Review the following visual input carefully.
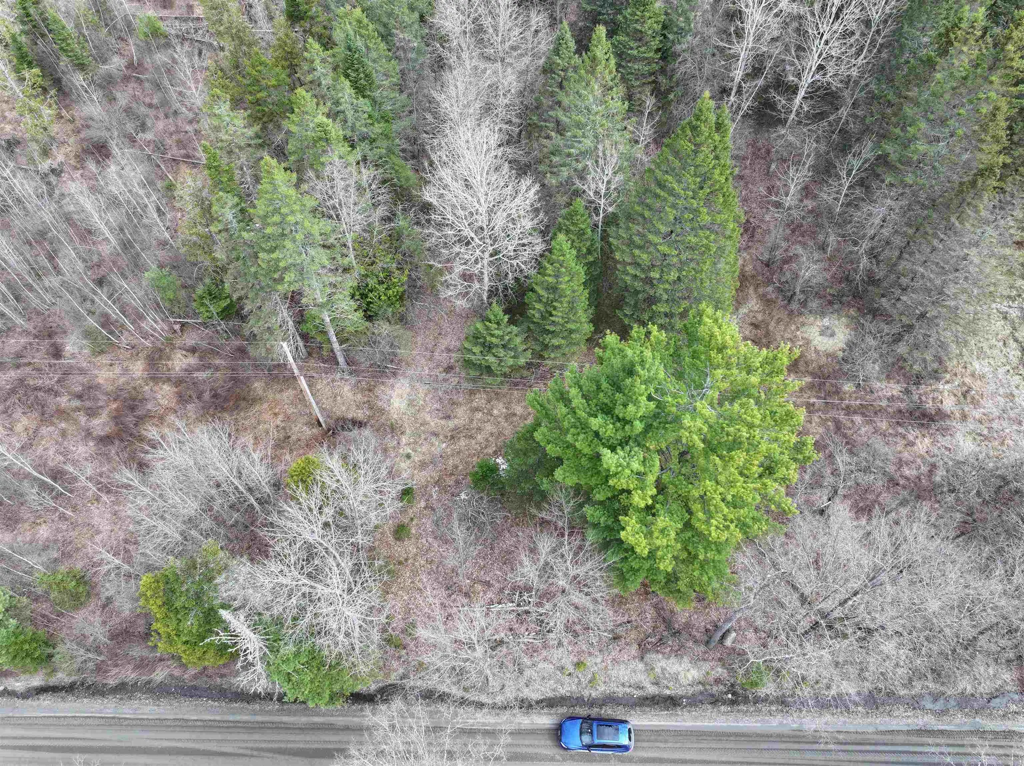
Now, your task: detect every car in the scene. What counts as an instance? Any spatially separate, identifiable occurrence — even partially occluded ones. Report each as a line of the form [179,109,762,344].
[558,718,634,759]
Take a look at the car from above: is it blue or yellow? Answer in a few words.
blue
